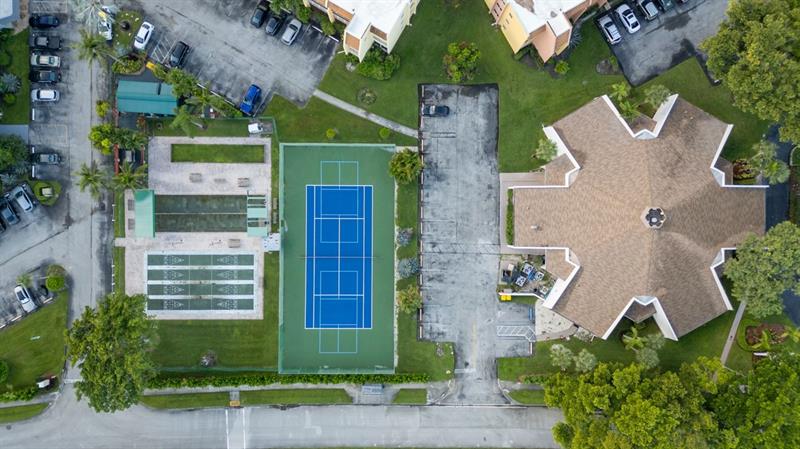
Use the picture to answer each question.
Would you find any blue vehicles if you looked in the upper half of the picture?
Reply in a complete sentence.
Yes, a blue vehicle is visible in the upper half of the picture.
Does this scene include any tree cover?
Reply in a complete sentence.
Yes, there is tree cover in the image.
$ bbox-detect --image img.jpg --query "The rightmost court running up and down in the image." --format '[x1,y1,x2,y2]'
[284,146,395,370]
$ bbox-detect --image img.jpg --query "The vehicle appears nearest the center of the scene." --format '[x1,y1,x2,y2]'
[422,104,451,117]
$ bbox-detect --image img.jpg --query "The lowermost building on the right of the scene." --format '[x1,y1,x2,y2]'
[507,89,770,347]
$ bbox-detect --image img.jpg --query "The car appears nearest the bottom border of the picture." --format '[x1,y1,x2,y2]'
[16,287,38,312]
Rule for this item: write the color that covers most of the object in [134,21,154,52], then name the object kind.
white car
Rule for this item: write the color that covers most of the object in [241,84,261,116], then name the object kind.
blue vehicle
